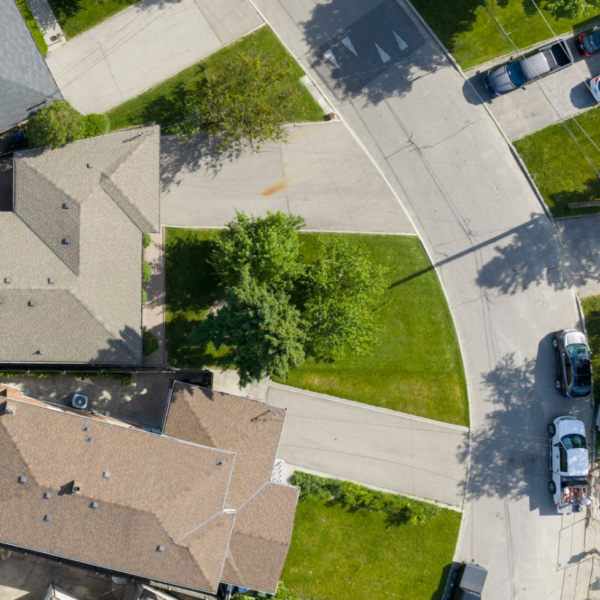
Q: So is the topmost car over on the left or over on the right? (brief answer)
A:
right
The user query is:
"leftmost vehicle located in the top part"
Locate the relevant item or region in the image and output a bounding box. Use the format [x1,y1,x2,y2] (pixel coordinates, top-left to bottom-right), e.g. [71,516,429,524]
[478,37,577,97]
